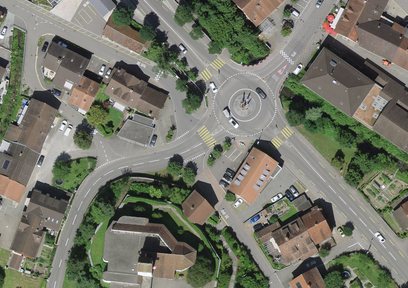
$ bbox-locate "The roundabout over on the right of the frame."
[210,69,282,140]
